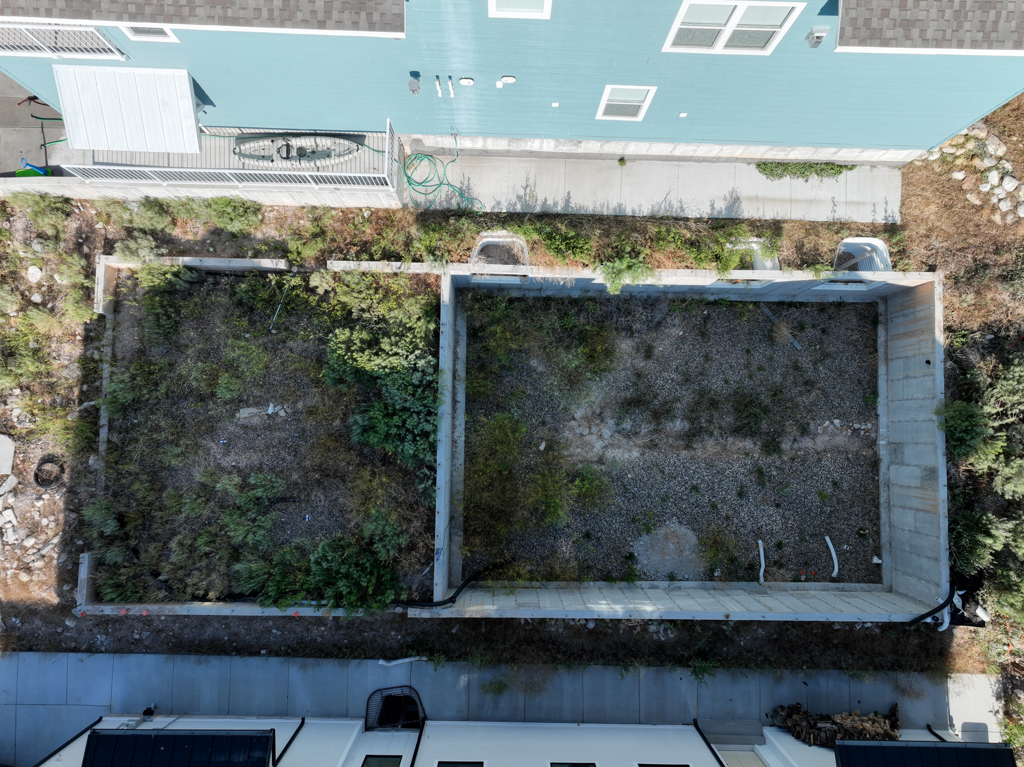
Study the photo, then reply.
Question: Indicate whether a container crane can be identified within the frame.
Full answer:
No, I can see no container crane in this picture.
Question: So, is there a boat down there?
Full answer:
Yes, the image includes a boat.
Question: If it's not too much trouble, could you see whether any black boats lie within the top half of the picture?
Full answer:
No, I see no black boat within the top half of the picture.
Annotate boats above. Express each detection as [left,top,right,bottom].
[227,131,361,165]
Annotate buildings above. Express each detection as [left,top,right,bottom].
[0,0,1024,168]
[32,697,1019,767]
